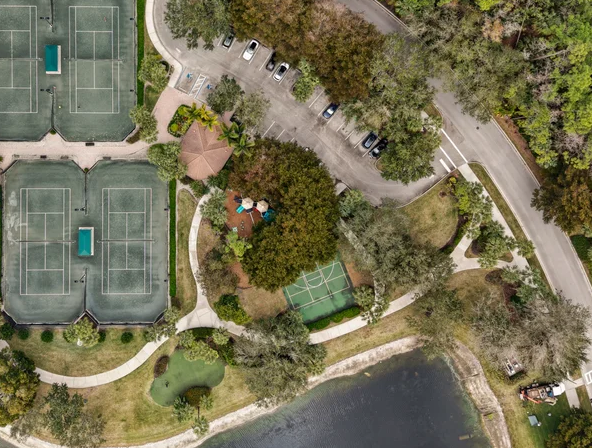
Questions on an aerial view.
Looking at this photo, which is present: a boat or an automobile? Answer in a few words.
automobile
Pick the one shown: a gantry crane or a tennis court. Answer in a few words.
tennis court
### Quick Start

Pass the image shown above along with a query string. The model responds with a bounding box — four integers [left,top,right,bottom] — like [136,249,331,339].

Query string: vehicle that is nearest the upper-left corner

[221,28,236,48]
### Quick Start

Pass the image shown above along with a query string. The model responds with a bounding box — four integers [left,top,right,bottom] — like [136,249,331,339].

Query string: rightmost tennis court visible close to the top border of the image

[53,0,135,140]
